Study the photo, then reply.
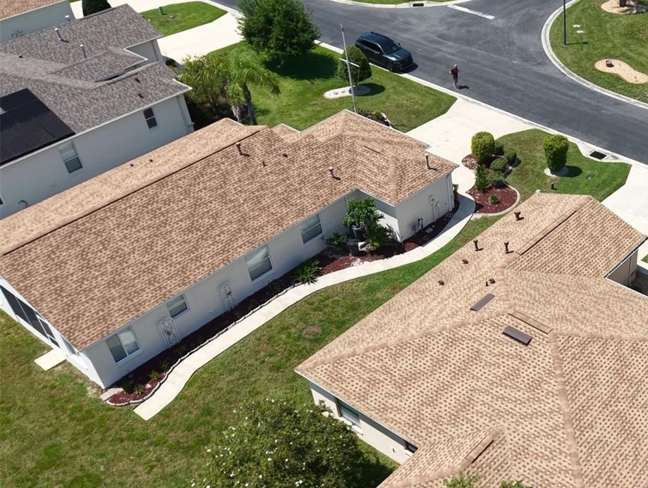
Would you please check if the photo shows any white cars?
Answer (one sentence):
No, there's no white car here.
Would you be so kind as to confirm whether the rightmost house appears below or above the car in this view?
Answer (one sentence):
The rightmost house is located below the car in this view.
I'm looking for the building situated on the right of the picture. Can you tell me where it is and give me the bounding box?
[294,195,648,488]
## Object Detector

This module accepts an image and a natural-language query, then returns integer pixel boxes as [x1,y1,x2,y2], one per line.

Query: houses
[0,109,460,388]
[294,195,648,488]
[0,3,203,215]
